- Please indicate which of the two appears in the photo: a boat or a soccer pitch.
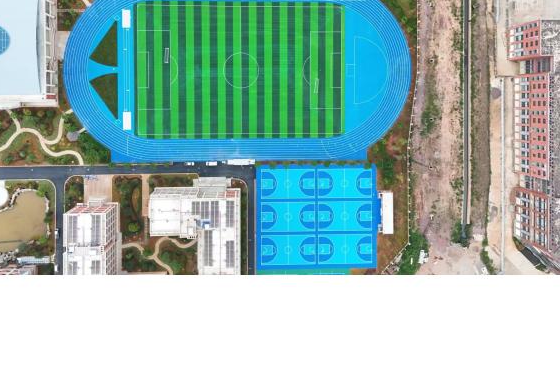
soccer pitch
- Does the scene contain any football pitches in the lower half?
No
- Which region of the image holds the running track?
top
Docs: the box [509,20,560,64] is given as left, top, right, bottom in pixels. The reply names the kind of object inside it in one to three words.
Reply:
building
